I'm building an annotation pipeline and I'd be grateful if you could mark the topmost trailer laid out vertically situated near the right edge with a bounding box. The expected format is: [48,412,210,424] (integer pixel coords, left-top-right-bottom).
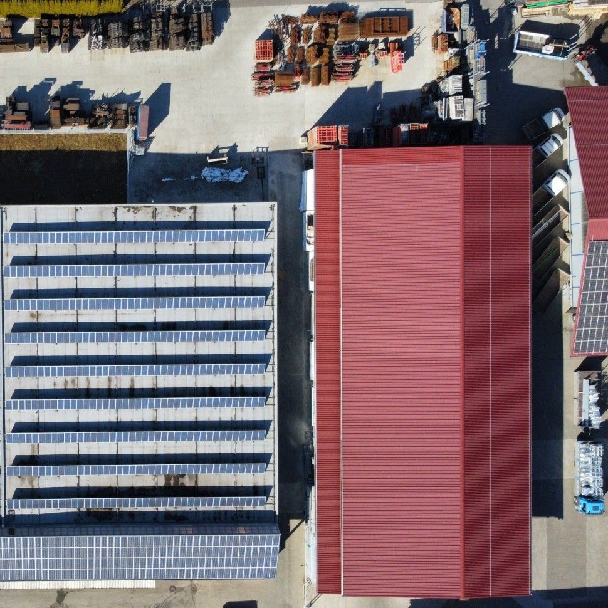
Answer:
[574,373,602,440]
